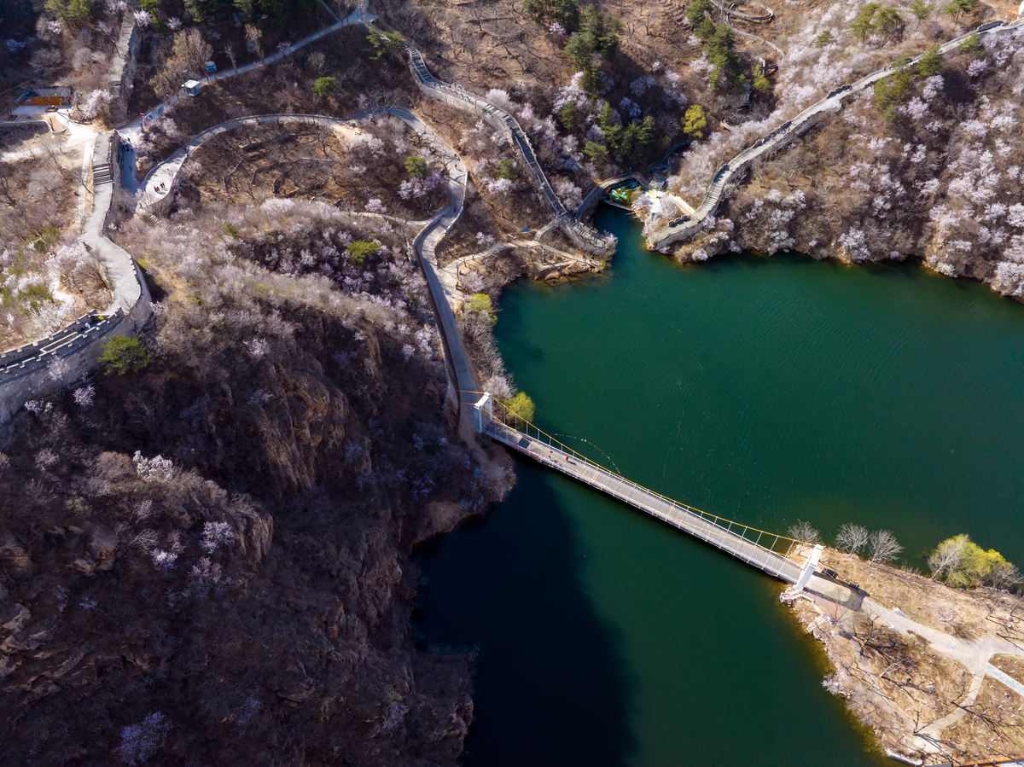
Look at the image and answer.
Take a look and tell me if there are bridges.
Yes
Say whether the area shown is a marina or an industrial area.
marina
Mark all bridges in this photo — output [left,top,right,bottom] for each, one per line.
[454,389,892,622]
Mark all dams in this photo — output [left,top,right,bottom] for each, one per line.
[592,174,651,213]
